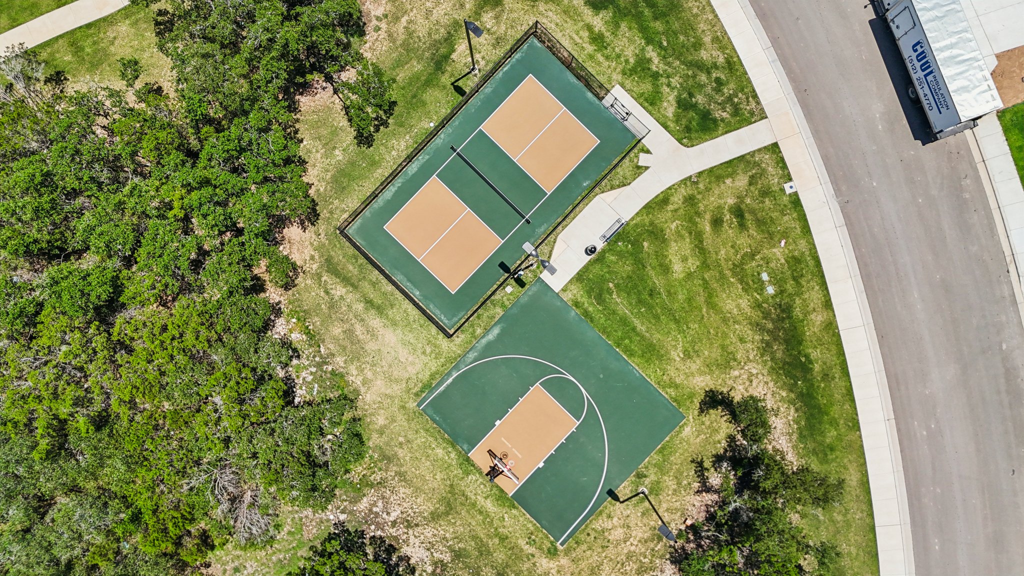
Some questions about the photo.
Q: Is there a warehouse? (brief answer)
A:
No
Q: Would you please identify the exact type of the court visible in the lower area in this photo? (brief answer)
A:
basketball court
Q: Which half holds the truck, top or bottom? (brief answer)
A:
top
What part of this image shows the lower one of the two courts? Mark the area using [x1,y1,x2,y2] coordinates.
[416,277,687,547]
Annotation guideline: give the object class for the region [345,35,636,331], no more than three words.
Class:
sports court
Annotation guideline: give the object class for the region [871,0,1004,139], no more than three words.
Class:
truck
